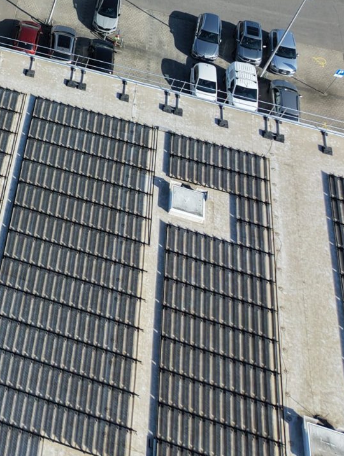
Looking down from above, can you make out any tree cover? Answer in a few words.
No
